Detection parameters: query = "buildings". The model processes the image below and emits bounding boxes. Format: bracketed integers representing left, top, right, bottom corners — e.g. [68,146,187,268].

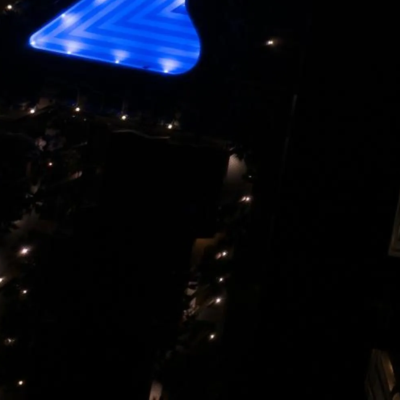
[269,0,400,351]
[71,142,238,342]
